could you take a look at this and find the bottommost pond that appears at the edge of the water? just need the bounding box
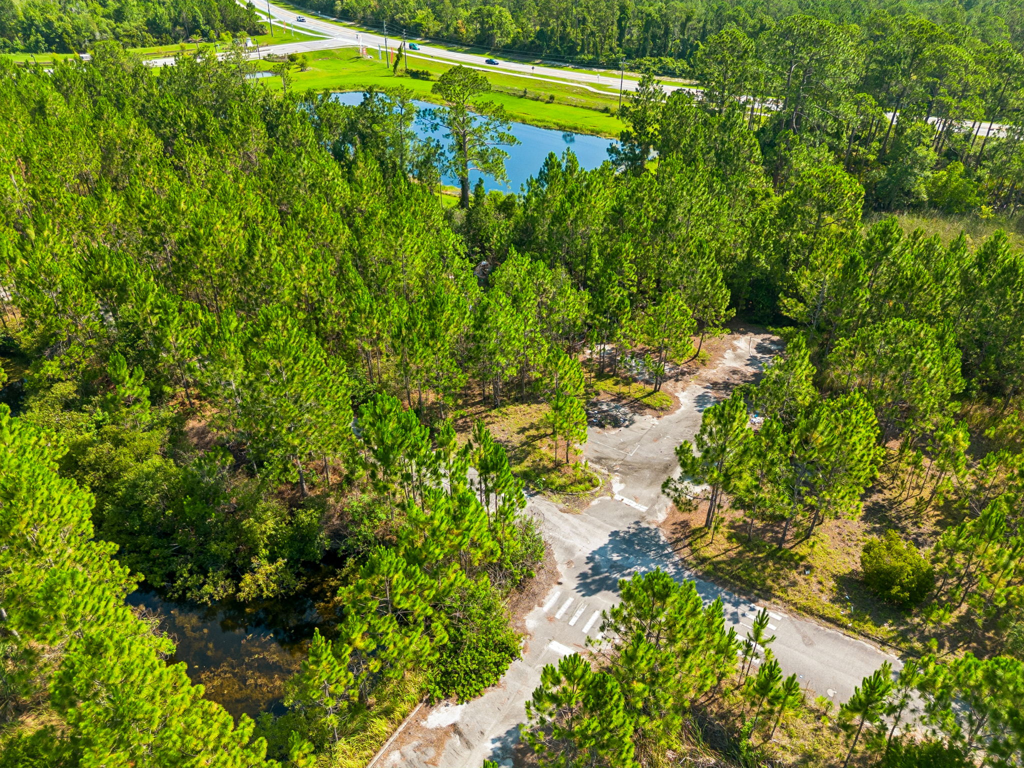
[316,92,649,191]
